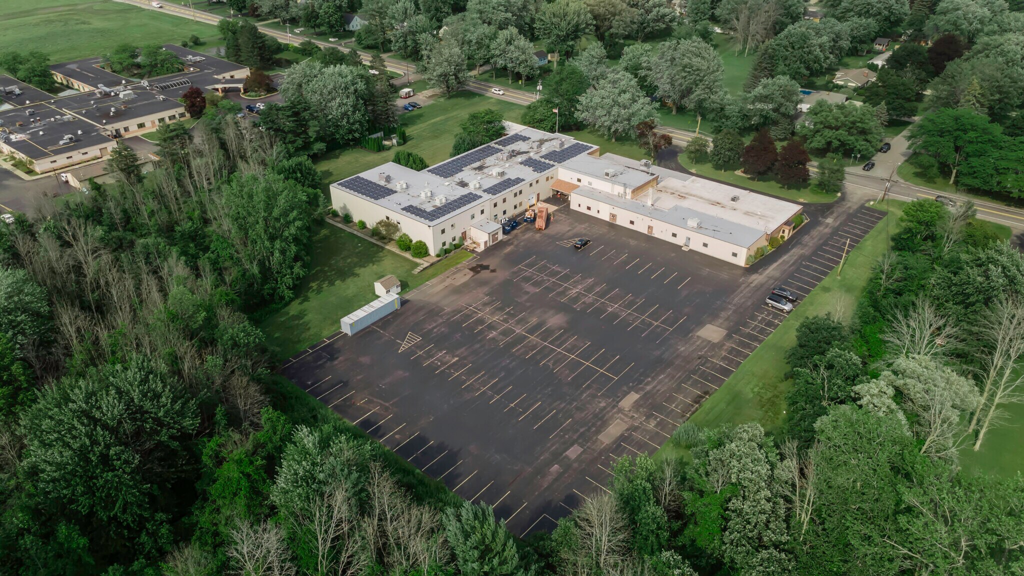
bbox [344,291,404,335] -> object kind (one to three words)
shipping container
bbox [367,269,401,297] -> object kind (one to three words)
shed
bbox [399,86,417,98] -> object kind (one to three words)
vehicle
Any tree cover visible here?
Yes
